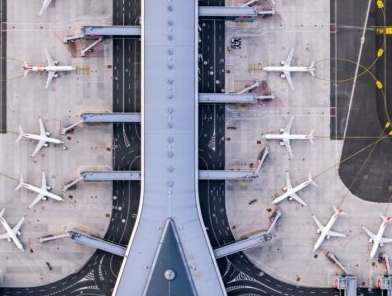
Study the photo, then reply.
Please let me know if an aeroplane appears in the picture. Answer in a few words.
Yes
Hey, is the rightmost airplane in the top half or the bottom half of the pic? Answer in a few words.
bottom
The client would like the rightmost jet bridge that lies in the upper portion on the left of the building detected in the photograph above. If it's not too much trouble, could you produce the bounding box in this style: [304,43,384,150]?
[78,36,104,56]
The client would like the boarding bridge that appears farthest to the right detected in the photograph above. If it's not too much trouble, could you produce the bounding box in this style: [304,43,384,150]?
[379,251,391,275]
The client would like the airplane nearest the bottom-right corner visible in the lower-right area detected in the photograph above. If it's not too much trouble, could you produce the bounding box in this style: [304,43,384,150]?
[363,215,392,259]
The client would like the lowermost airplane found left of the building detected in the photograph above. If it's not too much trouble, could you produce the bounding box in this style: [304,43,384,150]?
[0,212,25,250]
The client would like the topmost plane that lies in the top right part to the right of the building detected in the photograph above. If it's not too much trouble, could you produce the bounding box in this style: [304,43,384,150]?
[263,46,317,90]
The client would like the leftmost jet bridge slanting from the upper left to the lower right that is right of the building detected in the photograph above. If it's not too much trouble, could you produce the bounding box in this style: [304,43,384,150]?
[325,251,349,275]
